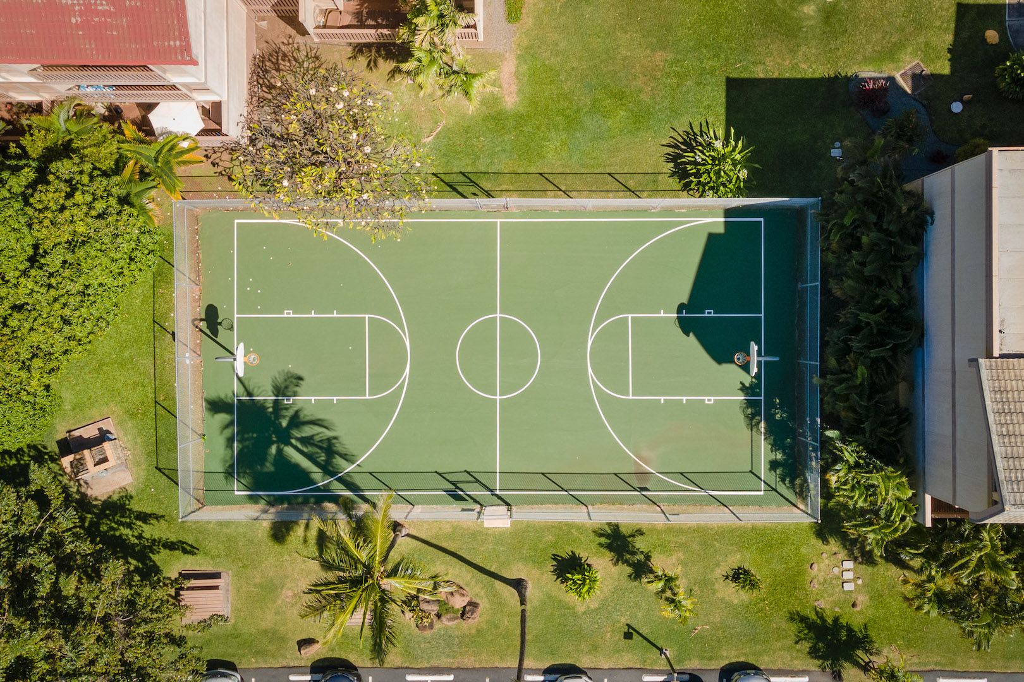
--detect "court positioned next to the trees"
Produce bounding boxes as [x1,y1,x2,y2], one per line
[202,210,796,506]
